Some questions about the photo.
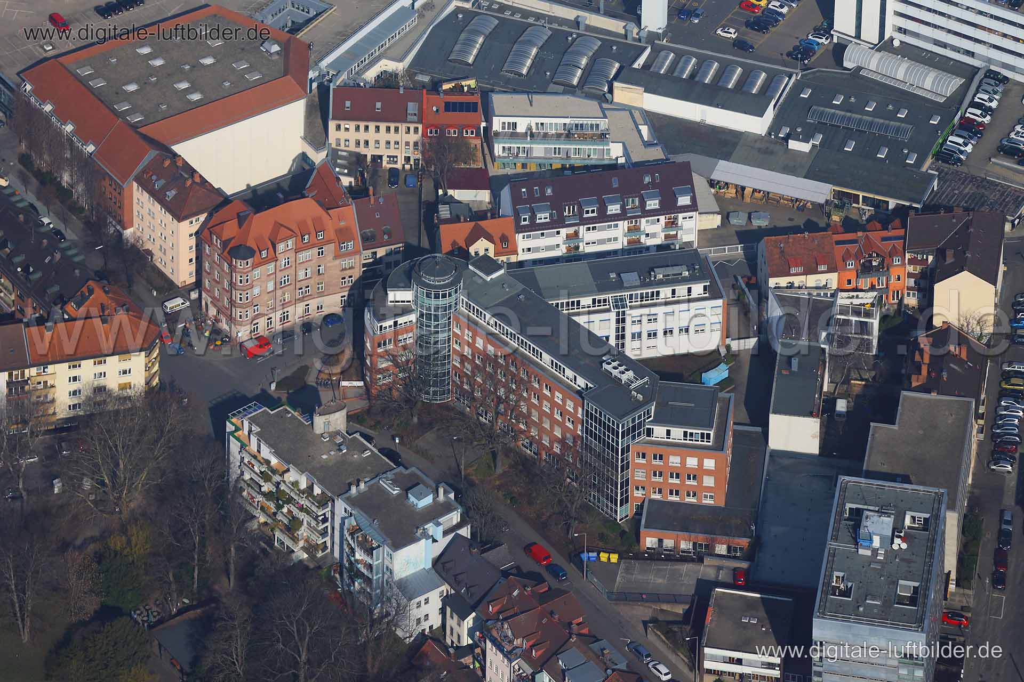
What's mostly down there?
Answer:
buildings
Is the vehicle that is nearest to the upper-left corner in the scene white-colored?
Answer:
No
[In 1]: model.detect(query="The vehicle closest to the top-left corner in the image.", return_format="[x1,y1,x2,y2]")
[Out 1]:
[47,8,71,32]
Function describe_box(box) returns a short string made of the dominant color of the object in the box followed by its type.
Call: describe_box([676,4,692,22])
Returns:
blue car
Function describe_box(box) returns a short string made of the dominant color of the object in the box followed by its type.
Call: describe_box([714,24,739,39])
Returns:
white car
